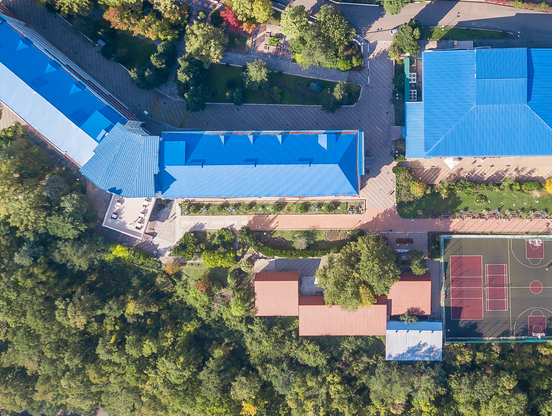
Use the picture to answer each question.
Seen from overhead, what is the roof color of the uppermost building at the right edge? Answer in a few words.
blue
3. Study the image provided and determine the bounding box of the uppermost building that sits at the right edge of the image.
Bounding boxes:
[392,40,552,159]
